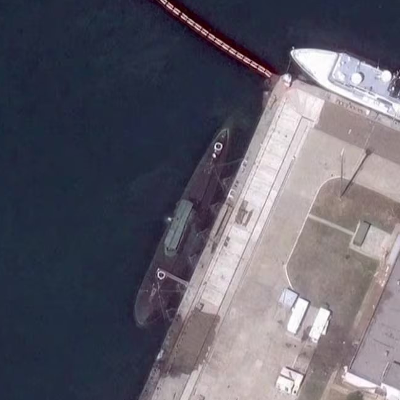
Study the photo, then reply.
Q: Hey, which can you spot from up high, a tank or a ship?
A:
ship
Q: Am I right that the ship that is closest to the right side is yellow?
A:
No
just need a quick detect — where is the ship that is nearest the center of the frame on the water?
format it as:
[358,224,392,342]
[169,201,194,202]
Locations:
[134,130,227,328]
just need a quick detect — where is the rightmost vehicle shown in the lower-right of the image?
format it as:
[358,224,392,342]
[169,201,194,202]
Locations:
[308,310,328,346]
